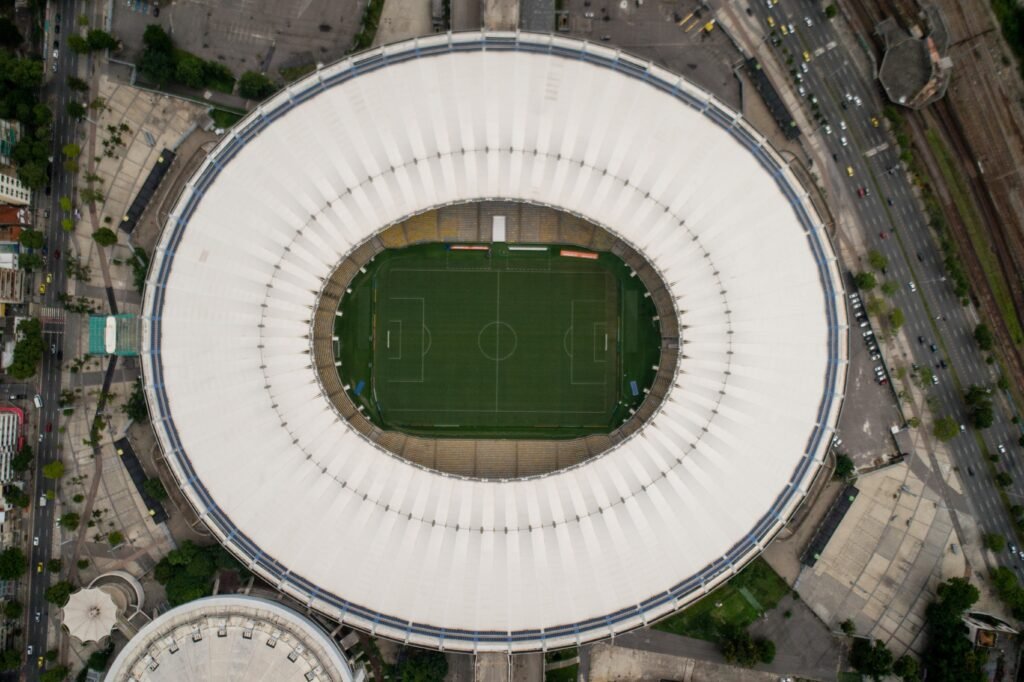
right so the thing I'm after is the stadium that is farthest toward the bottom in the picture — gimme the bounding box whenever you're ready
[104,592,357,682]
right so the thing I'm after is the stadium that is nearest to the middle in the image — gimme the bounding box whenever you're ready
[140,29,849,653]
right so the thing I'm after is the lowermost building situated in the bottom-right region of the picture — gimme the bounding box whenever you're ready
[961,613,1019,648]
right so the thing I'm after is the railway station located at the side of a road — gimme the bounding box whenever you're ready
[876,0,953,110]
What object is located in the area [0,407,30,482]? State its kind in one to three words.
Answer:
building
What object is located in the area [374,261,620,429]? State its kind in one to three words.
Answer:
soccer field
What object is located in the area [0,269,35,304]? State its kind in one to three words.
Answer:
building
